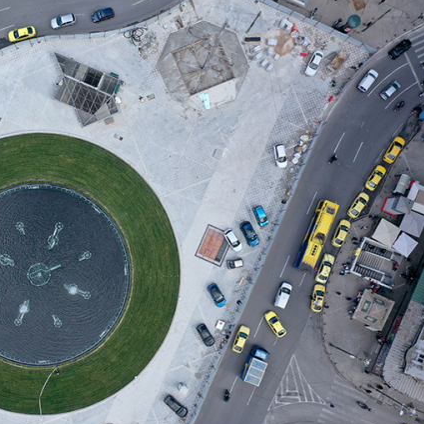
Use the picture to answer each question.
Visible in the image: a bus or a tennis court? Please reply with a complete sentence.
It is a bus that can be seen here.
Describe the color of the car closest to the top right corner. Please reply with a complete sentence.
In this view, the car closest to the top right corner is black.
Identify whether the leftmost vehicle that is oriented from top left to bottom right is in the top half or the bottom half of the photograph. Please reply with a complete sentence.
The leftmost vehicle that is oriented from top left to bottom right is in the bottom half of the image.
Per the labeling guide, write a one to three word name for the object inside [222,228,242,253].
car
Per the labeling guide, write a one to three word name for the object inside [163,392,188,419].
vehicle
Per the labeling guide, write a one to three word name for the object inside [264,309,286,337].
car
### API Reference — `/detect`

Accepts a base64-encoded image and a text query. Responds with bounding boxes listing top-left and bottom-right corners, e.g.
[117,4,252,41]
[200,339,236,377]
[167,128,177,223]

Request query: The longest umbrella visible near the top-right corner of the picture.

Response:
[334,14,362,35]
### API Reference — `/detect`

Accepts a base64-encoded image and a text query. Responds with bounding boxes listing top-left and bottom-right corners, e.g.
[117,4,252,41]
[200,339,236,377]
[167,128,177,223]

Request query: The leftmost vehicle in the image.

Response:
[8,26,37,43]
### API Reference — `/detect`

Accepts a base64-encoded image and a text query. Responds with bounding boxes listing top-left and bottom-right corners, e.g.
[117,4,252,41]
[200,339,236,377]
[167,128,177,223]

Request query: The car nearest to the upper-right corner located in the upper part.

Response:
[385,37,414,62]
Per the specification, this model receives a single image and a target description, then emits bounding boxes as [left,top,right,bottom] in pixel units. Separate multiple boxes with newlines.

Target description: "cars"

[347,191,368,219]
[378,79,401,102]
[264,309,286,337]
[194,321,216,348]
[207,281,226,309]
[382,137,405,165]
[274,282,292,309]
[8,26,37,43]
[233,324,249,353]
[273,143,289,168]
[304,49,324,77]
[385,37,414,62]
[222,228,242,253]
[365,163,385,192]
[355,68,380,95]
[49,13,77,29]
[310,283,326,312]
[316,253,334,282]
[252,203,269,228]
[226,258,245,271]
[239,220,259,248]
[89,6,117,24]
[330,219,350,248]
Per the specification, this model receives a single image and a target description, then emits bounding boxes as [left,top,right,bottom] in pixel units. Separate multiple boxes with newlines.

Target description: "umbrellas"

[391,232,418,257]
[334,14,362,35]
[372,219,400,247]
[400,210,424,237]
